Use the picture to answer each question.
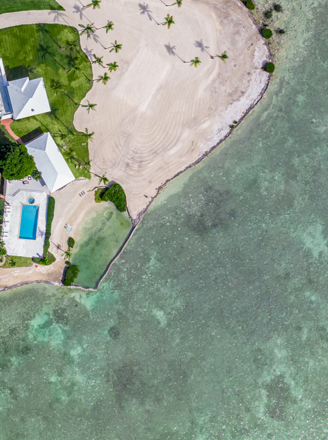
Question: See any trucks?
No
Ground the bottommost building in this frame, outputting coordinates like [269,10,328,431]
[27,132,75,192]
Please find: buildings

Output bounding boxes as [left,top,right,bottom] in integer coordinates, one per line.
[27,132,75,192]
[6,77,50,120]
